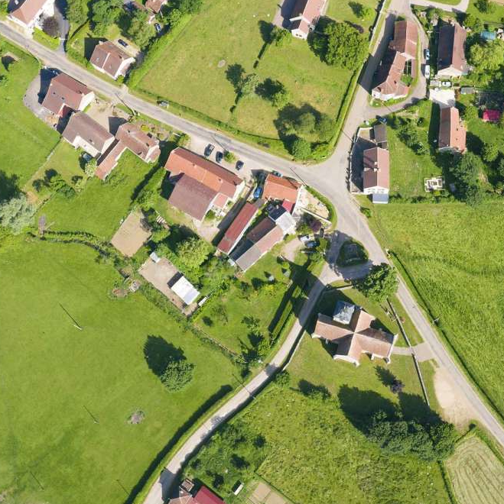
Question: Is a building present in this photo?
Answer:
Yes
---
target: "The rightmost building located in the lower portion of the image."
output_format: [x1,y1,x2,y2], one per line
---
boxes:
[313,301,395,369]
